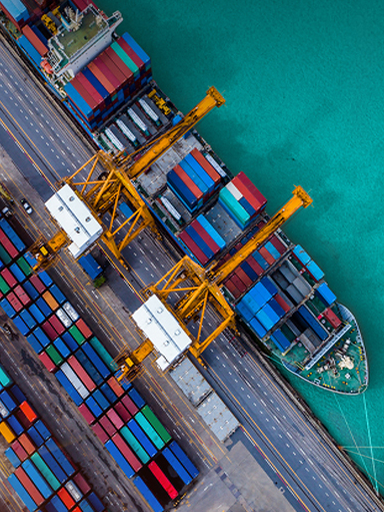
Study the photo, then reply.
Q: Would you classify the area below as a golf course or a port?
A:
port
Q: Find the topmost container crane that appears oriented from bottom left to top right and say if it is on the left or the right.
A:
left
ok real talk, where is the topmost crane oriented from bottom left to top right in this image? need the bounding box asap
[18,87,235,269]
